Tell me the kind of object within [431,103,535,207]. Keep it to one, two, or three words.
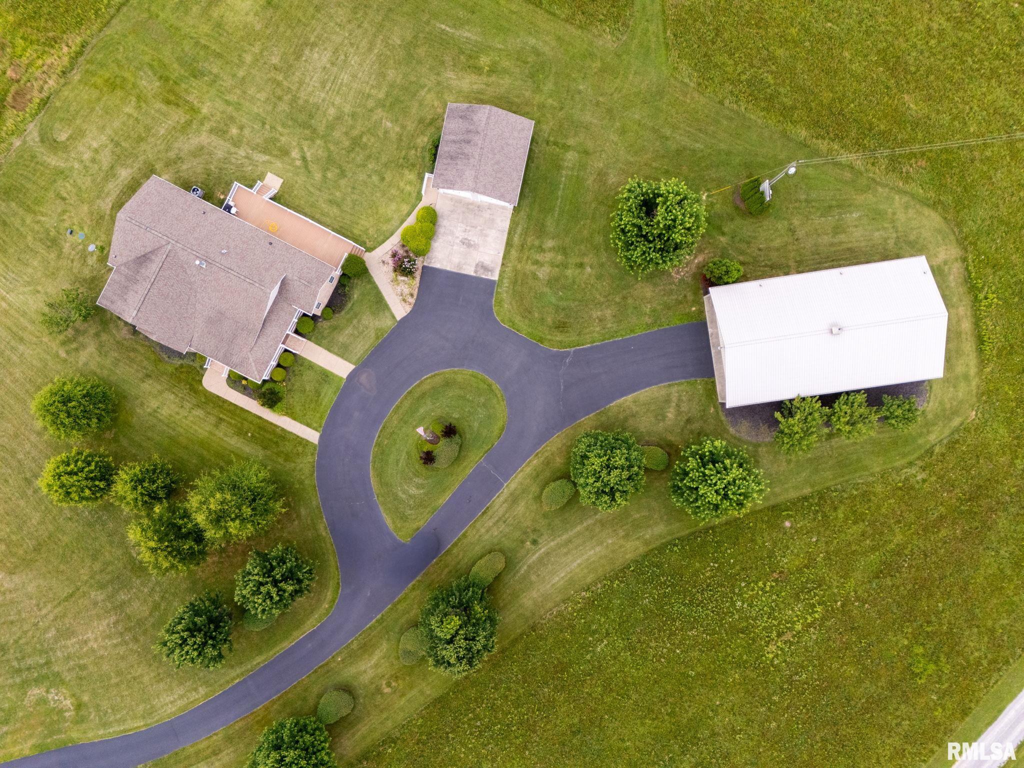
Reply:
building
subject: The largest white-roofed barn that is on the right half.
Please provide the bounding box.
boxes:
[703,254,950,410]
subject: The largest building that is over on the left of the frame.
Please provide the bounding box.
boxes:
[98,174,339,383]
